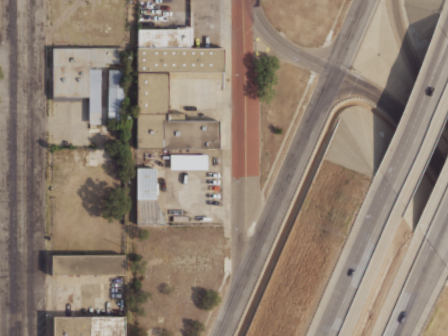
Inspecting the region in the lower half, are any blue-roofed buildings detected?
No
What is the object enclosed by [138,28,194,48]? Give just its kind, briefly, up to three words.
building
